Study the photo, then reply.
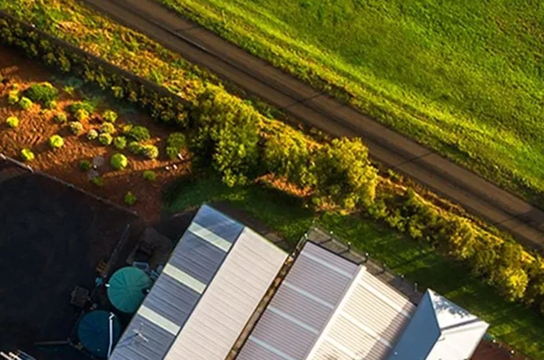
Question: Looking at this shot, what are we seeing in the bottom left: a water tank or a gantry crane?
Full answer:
There is a water tank in the bottom left.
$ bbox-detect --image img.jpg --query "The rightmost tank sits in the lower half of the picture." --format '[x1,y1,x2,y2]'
[104,269,154,317]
